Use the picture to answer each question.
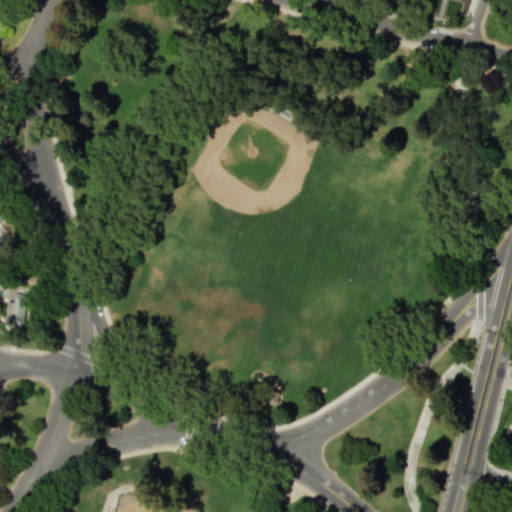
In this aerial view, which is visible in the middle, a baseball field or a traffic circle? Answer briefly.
baseball field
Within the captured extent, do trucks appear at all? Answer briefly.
No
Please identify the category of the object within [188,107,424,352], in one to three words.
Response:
baseball field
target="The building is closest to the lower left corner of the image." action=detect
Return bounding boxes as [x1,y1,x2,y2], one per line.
[4,292,26,326]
